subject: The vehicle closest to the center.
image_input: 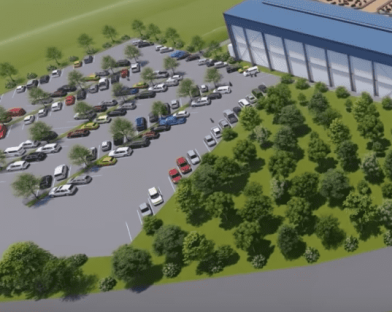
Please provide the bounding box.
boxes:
[187,150,200,164]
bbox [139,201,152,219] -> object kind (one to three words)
vehicle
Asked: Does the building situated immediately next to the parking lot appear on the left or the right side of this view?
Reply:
right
